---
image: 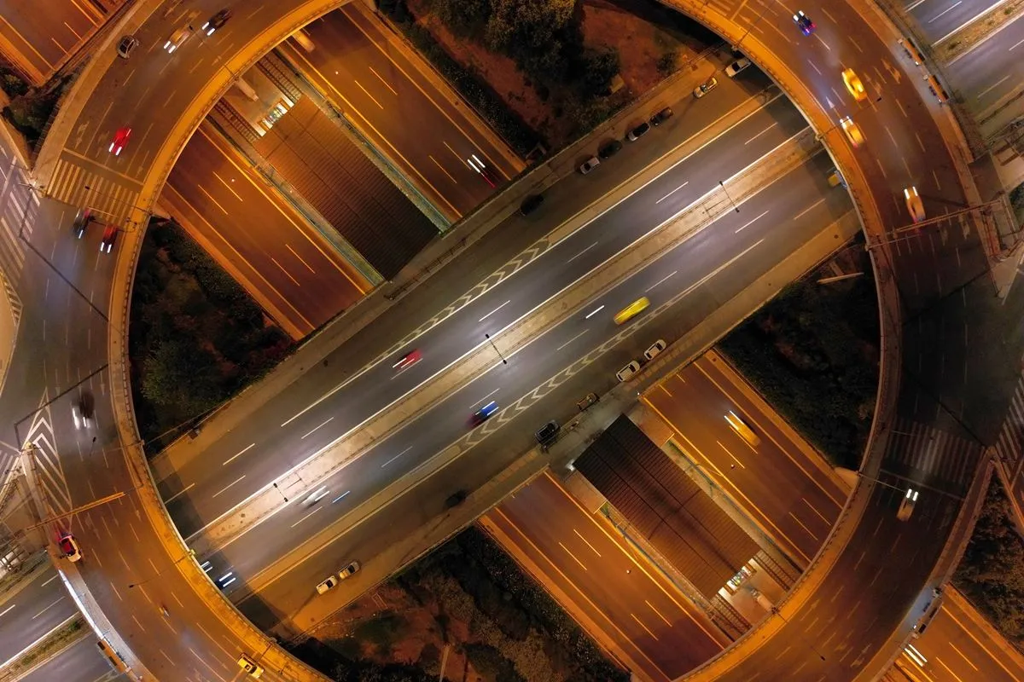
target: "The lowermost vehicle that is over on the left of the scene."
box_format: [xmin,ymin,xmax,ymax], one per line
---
[237,653,264,677]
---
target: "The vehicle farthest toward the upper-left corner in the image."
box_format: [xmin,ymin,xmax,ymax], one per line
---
[117,33,139,59]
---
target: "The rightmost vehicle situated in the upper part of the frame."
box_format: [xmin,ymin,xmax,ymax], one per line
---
[905,191,922,219]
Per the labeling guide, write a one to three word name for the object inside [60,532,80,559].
car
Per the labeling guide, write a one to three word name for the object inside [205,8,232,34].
car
